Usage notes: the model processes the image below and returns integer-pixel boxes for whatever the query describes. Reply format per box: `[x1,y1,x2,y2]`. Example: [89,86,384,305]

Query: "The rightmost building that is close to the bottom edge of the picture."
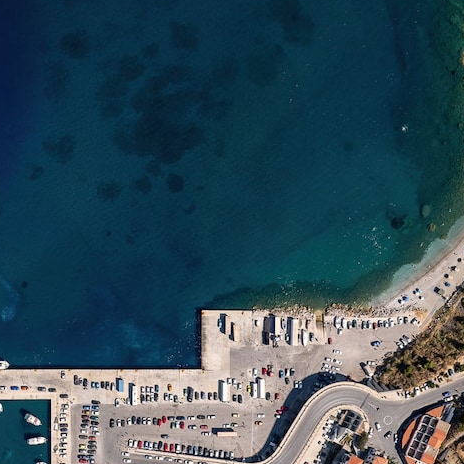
[399,405,450,464]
